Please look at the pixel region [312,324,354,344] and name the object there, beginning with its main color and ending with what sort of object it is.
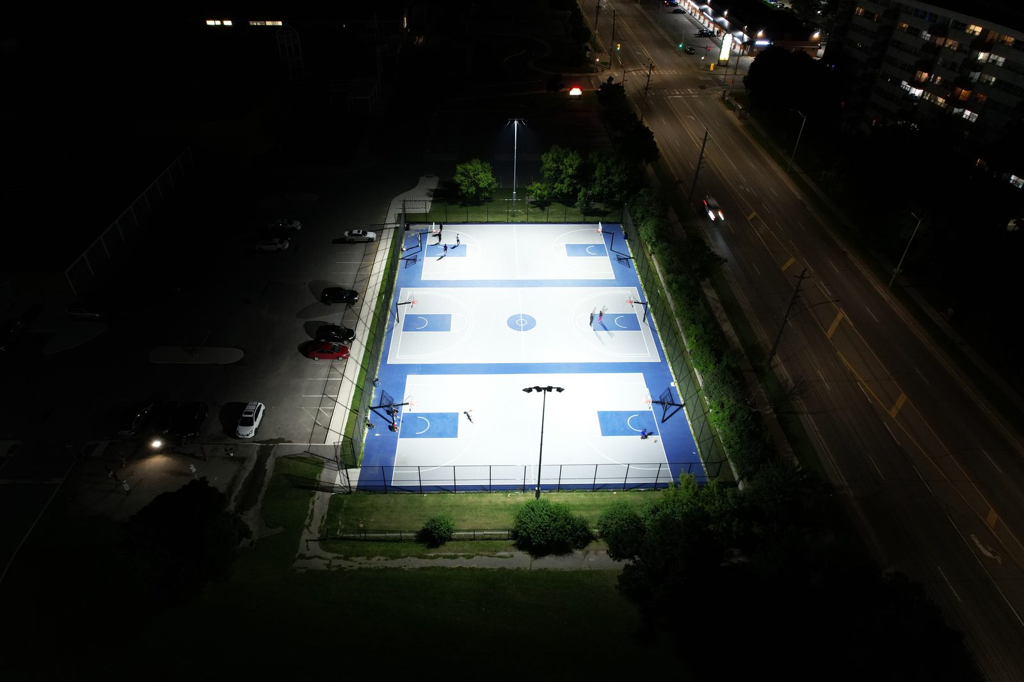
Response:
black car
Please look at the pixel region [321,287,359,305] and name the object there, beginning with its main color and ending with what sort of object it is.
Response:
black car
